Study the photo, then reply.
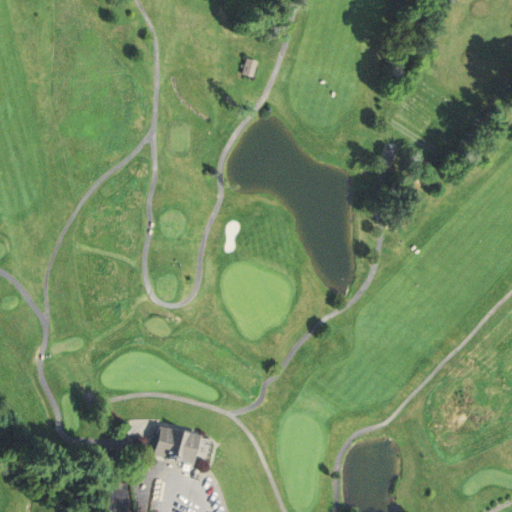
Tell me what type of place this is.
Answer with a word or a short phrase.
golf course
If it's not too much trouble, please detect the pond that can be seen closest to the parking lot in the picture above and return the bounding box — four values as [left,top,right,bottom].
[343,438,400,512]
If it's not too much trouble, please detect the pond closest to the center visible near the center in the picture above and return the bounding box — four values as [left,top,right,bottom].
[227,117,355,294]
